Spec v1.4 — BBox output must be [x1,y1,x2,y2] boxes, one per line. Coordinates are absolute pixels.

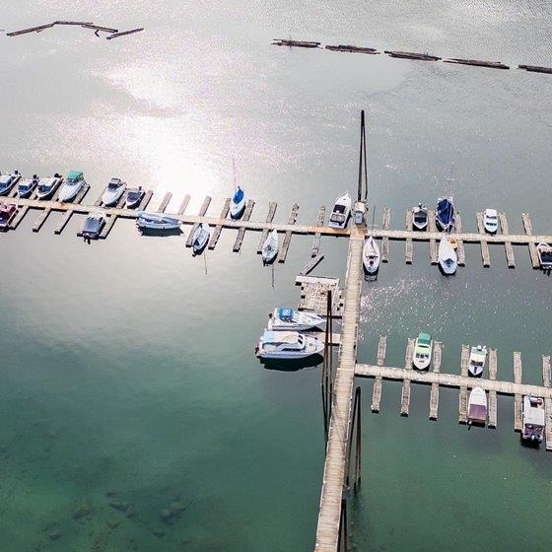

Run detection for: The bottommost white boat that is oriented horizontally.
[256,329,325,358]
